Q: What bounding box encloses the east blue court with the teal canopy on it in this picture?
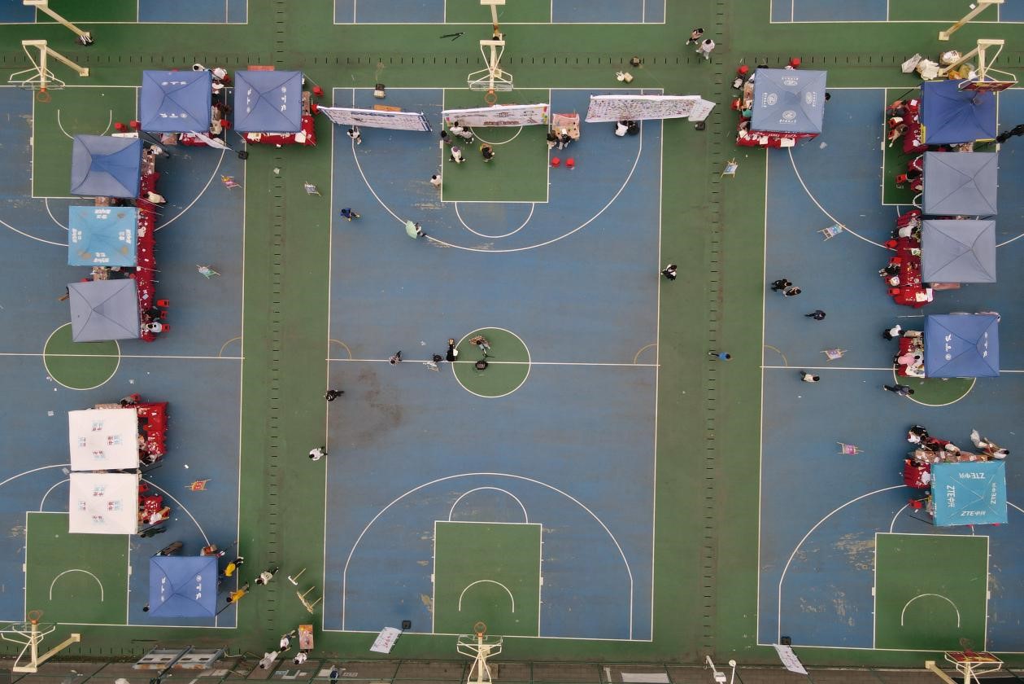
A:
[756,90,1024,654]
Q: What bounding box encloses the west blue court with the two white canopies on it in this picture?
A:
[0,86,247,627]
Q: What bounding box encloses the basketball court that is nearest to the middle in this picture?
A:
[323,80,663,642]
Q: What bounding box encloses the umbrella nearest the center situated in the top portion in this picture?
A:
[404,217,419,243]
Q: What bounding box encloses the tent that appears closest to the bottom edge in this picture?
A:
[149,542,239,616]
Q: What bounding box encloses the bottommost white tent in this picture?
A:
[69,465,164,534]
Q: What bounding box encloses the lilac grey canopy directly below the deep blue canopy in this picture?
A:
[897,152,997,221]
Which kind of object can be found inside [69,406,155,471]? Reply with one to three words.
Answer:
tent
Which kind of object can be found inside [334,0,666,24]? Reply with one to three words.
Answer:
basketball court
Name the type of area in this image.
sports ground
